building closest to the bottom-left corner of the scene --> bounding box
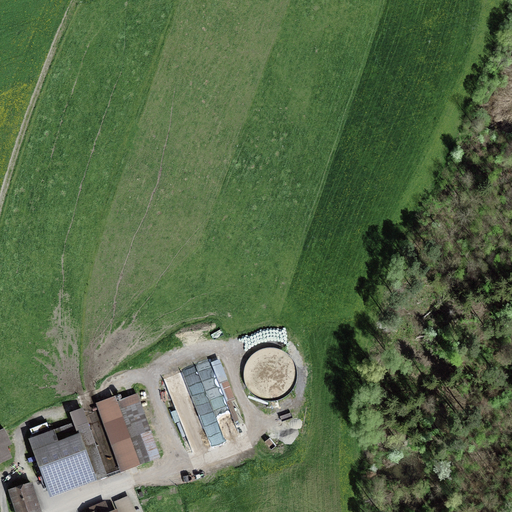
[8,481,42,512]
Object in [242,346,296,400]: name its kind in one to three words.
storage tank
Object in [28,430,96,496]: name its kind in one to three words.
barn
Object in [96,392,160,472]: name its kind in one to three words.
barn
